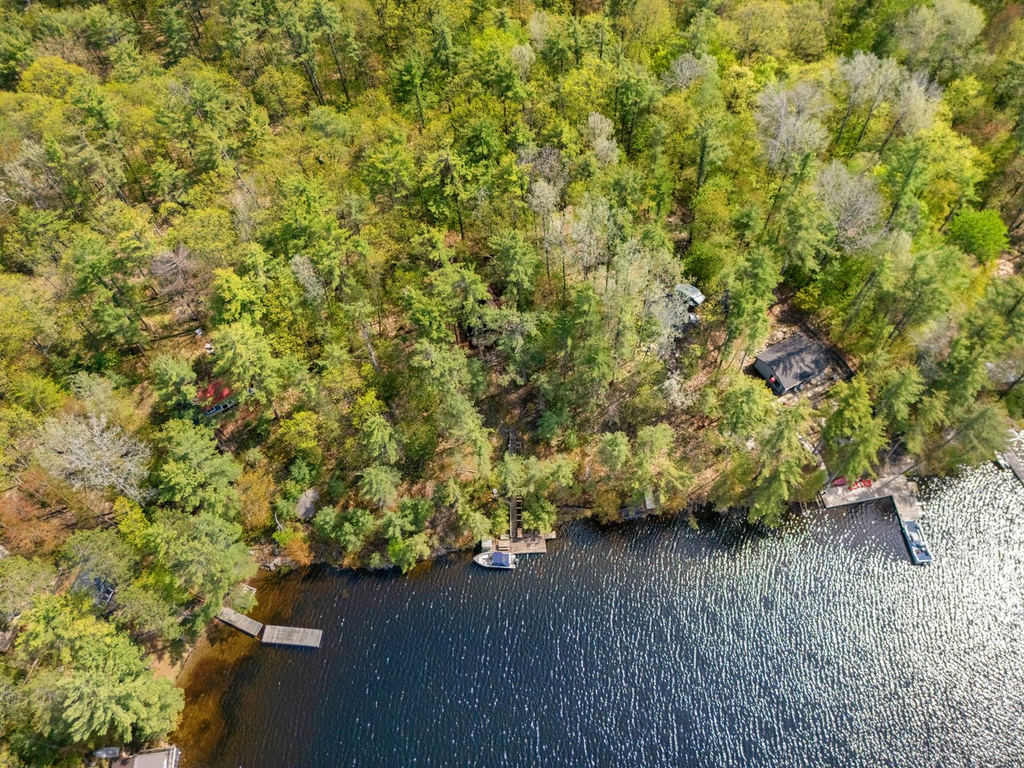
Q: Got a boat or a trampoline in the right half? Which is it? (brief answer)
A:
boat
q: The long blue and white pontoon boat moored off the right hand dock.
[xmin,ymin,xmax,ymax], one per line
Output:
[901,519,934,566]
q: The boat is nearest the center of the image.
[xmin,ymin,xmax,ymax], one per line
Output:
[473,551,521,571]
